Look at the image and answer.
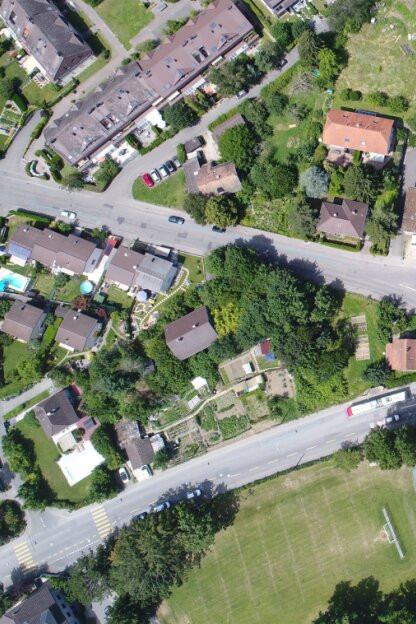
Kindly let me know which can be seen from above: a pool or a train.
pool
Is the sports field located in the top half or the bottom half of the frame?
bottom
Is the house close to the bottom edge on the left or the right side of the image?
left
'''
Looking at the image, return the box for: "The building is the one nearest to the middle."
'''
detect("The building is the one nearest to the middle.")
[165,307,223,356]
